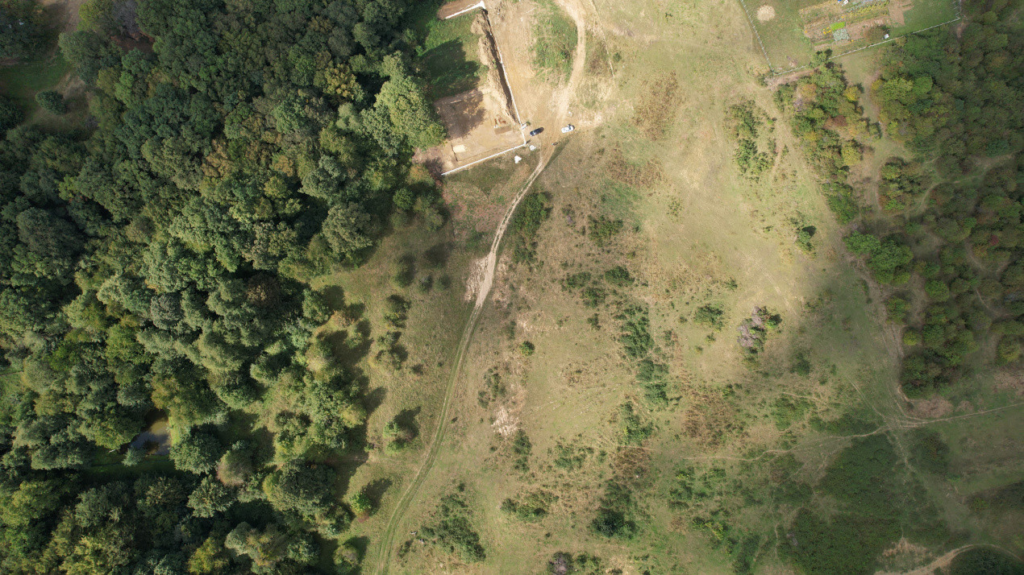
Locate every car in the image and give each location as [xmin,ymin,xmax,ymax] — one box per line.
[560,122,575,133]
[530,125,544,136]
